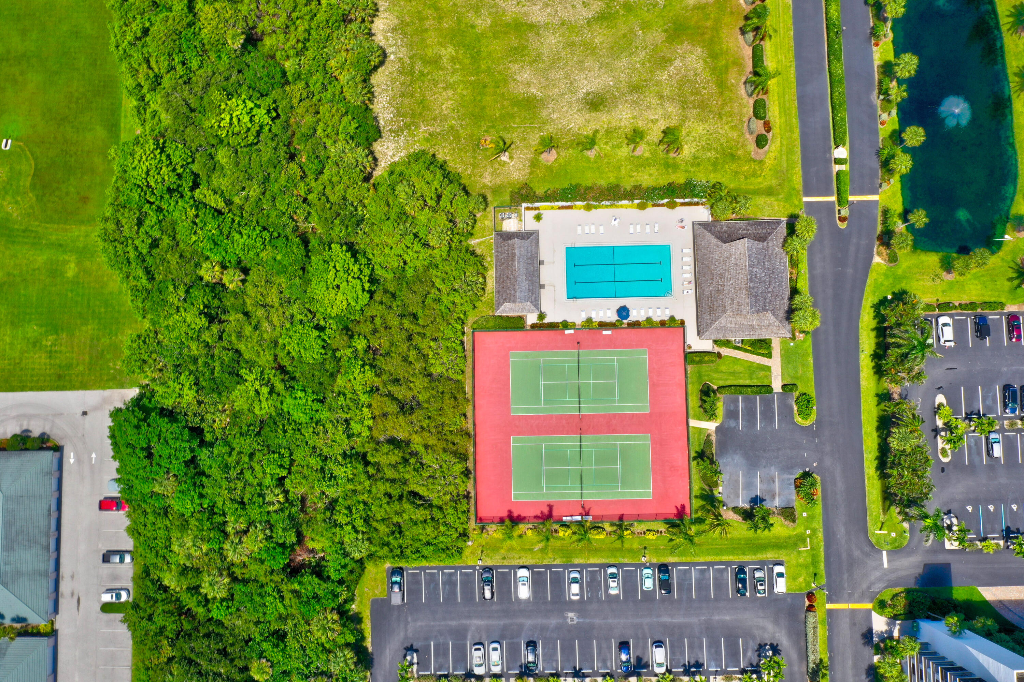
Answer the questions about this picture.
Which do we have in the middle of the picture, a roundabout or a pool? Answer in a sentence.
It is a pool that can be seen in the middle of the picture.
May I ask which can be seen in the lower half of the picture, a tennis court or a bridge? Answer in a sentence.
What appears in the lower half of the picture is a tennis court.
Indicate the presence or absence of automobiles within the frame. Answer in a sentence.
Yes, the picture does show an automobile.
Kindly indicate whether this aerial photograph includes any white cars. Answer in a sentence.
Yes, a white car is visible in the scene.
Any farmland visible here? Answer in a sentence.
No, there is no farmland in the image.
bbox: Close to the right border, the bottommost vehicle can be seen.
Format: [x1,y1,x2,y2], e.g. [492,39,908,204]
[985,432,1001,458]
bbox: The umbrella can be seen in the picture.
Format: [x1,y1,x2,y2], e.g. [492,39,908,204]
[617,306,631,320]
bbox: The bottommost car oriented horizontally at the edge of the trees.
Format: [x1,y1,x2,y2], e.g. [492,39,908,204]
[101,589,131,604]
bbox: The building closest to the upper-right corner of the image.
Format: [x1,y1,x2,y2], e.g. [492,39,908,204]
[694,220,791,339]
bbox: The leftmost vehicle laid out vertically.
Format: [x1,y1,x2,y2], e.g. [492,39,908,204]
[390,569,404,605]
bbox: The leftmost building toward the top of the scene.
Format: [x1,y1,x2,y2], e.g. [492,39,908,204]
[493,230,540,315]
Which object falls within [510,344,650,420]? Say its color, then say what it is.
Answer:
green tennis court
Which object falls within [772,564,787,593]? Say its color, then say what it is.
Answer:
white car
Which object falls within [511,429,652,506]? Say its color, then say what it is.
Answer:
green tennis court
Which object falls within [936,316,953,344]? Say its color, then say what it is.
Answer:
white car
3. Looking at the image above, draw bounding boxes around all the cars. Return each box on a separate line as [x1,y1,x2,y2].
[517,567,530,599]
[652,641,666,673]
[618,642,632,672]
[1007,314,1022,342]
[472,645,485,674]
[481,569,494,600]
[489,642,503,671]
[973,315,990,340]
[99,499,130,512]
[642,568,654,591]
[918,319,933,340]
[1019,384,1024,412]
[107,479,136,491]
[606,566,620,594]
[752,569,766,596]
[568,571,582,600]
[936,316,953,344]
[985,432,1001,458]
[1001,385,1018,413]
[525,642,539,673]
[101,589,131,604]
[772,564,787,593]
[658,564,671,595]
[734,566,748,596]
